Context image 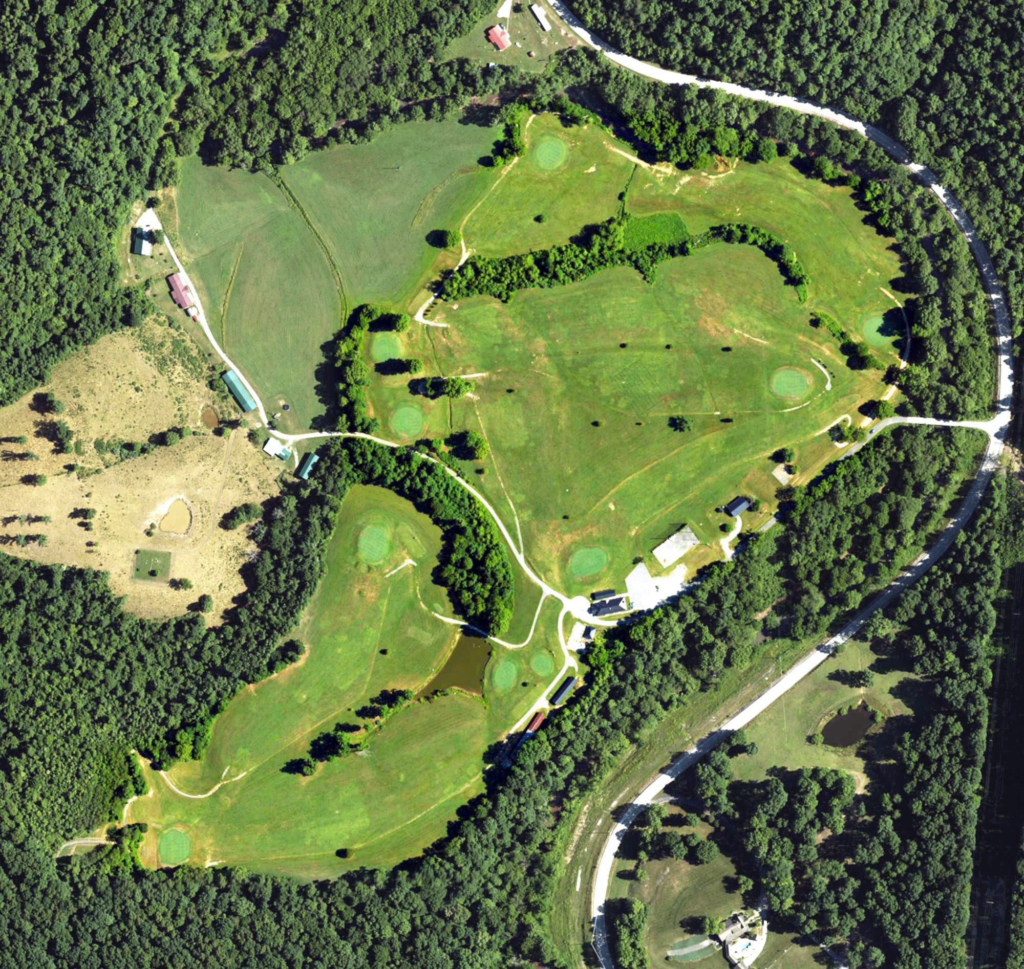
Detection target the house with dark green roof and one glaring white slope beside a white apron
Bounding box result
[133,227,150,255]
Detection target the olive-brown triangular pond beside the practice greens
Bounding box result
[419,630,492,697]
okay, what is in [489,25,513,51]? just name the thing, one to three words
house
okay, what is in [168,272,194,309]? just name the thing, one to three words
house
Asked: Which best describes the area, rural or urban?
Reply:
rural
